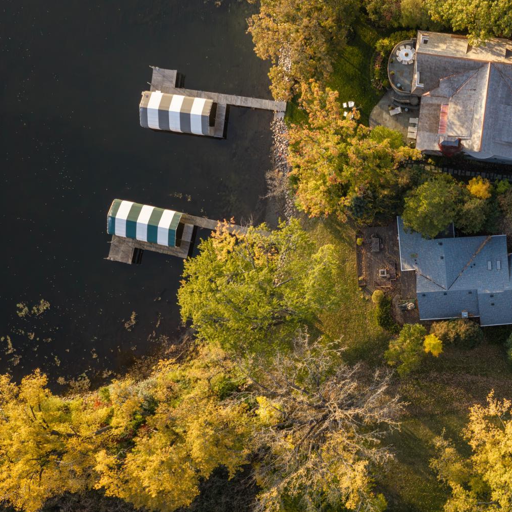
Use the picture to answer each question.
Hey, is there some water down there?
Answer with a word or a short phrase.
Yes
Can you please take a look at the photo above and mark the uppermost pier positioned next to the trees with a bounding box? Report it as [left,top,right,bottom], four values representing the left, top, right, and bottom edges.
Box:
[146,65,280,139]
